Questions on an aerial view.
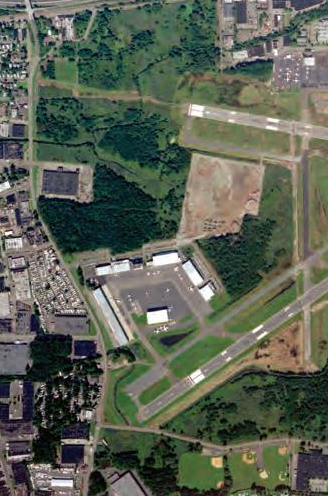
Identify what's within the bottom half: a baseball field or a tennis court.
baseball field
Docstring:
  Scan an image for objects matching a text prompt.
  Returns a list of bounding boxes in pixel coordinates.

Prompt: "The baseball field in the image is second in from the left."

[231,449,268,492]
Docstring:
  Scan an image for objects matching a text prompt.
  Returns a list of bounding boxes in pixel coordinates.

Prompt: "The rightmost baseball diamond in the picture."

[264,445,289,486]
